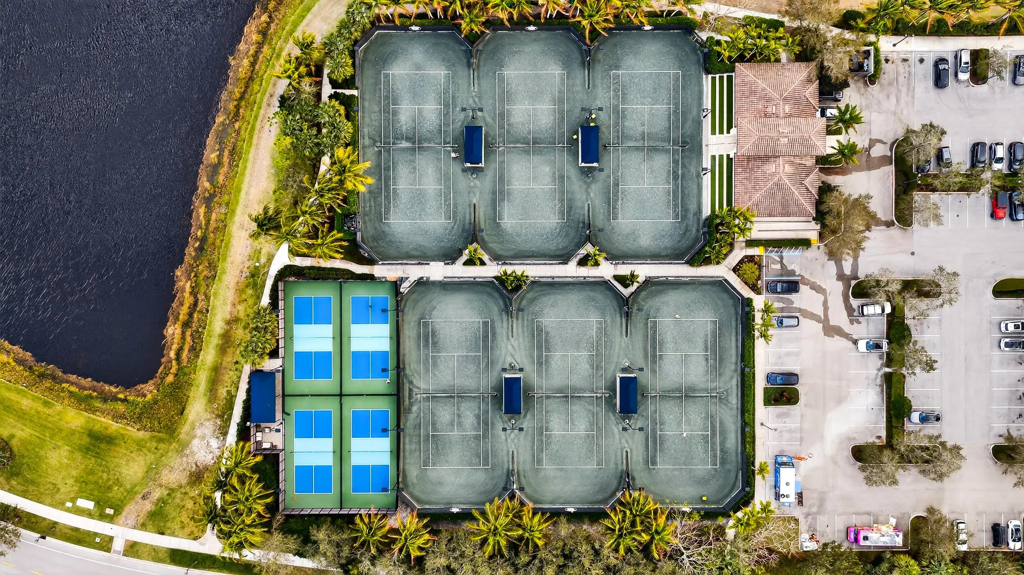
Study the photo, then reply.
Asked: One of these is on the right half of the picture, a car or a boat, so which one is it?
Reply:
car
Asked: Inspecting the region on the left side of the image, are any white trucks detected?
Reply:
No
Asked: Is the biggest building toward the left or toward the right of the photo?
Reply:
right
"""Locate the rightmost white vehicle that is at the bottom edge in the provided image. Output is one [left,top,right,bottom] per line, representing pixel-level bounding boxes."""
[1006,518,1023,549]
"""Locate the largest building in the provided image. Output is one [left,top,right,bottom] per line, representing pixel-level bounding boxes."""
[732,62,828,217]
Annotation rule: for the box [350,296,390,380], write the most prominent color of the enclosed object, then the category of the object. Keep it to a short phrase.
blue sports court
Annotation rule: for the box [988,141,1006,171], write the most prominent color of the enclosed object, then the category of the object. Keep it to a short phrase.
white car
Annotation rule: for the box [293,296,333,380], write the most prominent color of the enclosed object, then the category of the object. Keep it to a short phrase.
blue sports court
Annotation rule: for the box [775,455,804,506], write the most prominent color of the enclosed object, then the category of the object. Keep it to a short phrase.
white truck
